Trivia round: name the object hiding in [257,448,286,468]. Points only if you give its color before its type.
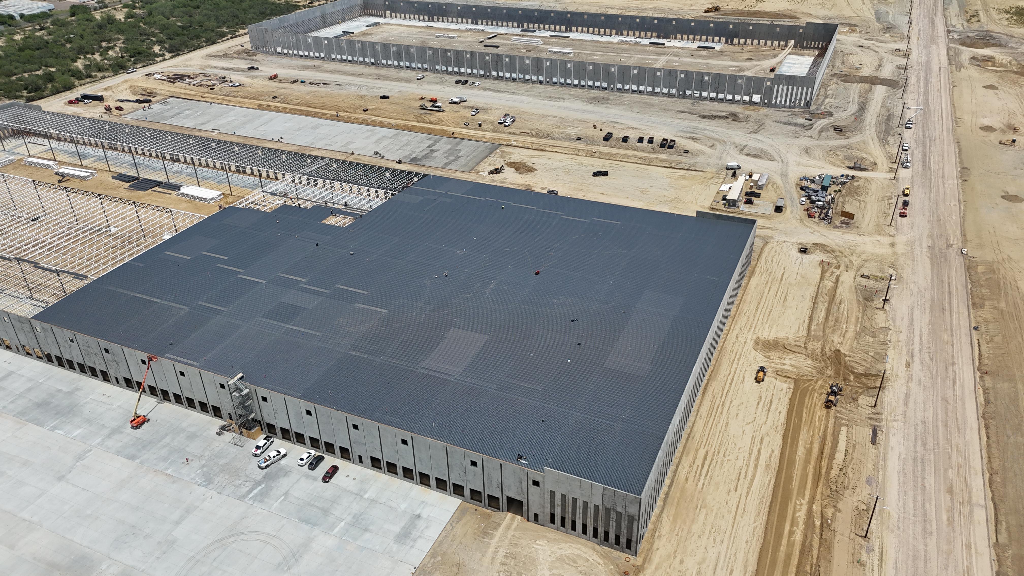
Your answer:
white vehicle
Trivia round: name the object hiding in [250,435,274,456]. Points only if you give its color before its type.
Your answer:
white truck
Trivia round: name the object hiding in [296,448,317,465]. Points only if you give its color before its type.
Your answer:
white car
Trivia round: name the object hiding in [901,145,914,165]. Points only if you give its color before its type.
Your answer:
white vehicle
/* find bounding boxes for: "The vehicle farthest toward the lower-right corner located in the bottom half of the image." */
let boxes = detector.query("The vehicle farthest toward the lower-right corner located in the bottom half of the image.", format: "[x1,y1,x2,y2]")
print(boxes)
[825,377,848,404]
